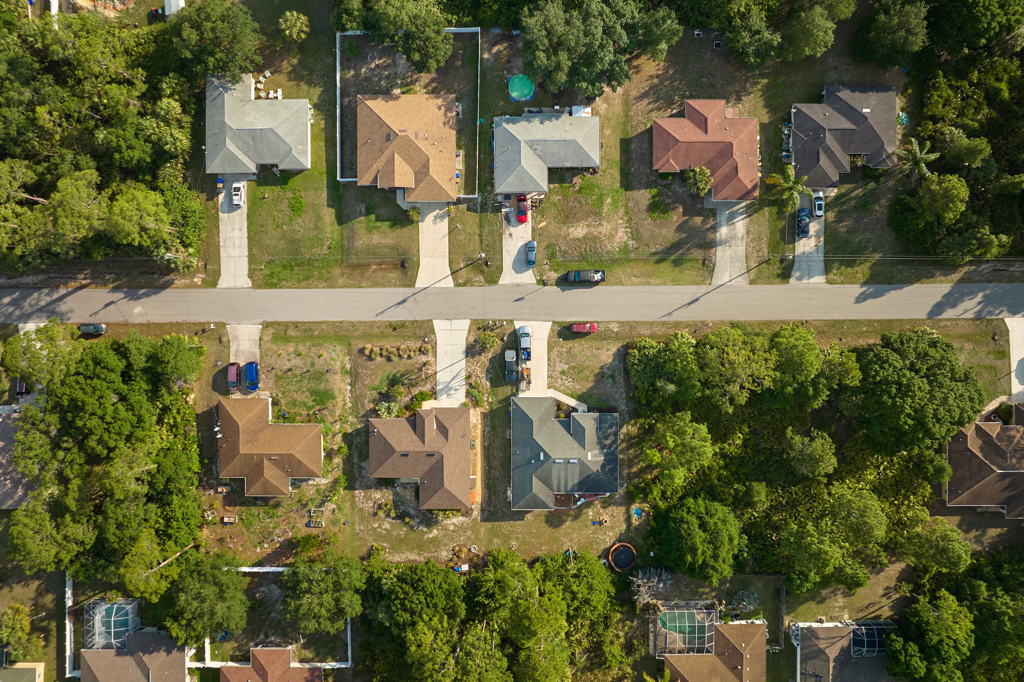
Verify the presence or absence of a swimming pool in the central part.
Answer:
No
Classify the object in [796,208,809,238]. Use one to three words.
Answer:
vehicle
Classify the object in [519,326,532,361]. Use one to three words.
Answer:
vehicle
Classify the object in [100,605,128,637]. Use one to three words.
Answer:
swimming pool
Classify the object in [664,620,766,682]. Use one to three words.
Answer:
house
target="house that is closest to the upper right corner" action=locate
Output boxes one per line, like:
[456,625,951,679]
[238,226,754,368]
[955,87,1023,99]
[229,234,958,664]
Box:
[788,85,896,188]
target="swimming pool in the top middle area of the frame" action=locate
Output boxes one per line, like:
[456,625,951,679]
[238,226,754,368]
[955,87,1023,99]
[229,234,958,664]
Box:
[508,73,535,101]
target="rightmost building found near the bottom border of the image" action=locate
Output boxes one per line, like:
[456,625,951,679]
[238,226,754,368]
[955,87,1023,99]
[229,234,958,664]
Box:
[797,623,903,682]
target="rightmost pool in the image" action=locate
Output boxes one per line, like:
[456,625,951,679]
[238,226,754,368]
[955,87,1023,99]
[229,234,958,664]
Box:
[855,628,893,652]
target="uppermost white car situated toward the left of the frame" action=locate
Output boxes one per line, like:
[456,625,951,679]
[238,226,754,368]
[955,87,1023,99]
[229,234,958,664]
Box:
[230,182,245,208]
